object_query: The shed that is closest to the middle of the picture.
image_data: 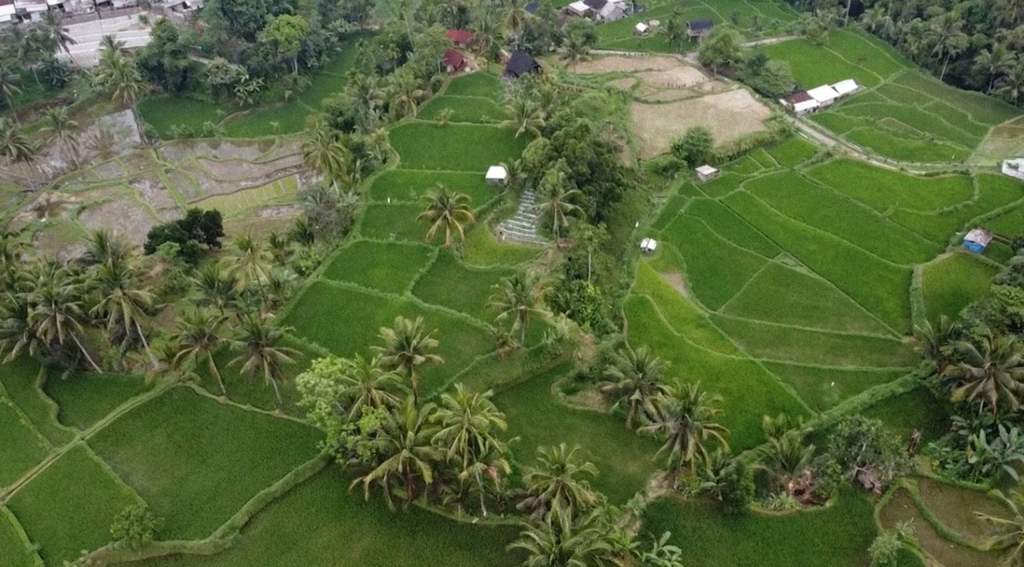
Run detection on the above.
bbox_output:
[487,171,507,192]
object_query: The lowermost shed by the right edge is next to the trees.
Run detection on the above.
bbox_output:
[965,230,995,259]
